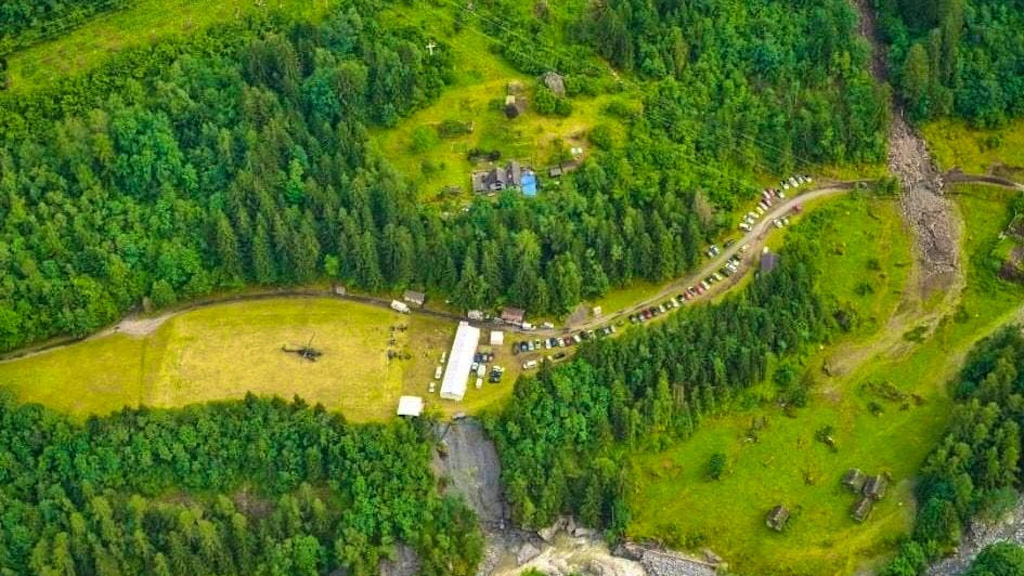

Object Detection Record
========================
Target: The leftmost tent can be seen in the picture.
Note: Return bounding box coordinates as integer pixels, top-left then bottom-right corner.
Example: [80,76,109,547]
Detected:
[397,397,422,418]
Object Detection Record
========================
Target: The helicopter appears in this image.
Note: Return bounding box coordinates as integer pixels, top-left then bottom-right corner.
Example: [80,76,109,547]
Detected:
[276,331,329,366]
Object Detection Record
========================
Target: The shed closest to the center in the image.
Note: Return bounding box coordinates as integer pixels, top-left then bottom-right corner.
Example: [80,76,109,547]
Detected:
[502,308,525,325]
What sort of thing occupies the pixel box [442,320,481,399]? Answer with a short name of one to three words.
tent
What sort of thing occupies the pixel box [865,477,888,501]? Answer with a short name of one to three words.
shed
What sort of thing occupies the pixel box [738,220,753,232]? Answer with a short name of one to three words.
vehicle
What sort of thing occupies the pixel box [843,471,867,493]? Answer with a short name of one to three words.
shed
